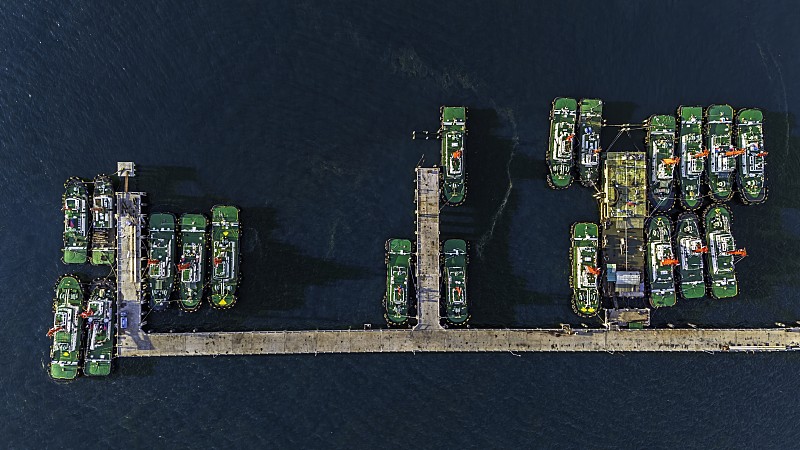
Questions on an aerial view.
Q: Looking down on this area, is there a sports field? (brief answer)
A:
No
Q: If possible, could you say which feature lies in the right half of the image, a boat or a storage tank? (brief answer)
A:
boat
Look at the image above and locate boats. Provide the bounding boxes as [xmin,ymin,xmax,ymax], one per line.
[674,212,710,298]
[646,116,683,211]
[570,223,601,318]
[676,107,712,209]
[441,108,469,205]
[176,215,209,311]
[548,98,578,189]
[45,276,86,379]
[645,212,683,306]
[703,204,745,298]
[145,214,178,310]
[53,176,91,263]
[734,109,770,203]
[76,282,117,375]
[385,240,413,326]
[208,205,241,309]
[85,176,118,263]
[705,107,747,202]
[576,99,604,186]
[441,240,469,325]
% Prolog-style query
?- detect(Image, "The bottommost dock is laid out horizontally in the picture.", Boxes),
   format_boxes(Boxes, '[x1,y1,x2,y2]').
[116,325,800,358]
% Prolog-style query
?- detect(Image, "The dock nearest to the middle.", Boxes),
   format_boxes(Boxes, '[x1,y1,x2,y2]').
[410,167,447,331]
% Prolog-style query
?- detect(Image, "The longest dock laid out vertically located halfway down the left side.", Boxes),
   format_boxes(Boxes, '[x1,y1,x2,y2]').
[115,191,148,334]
